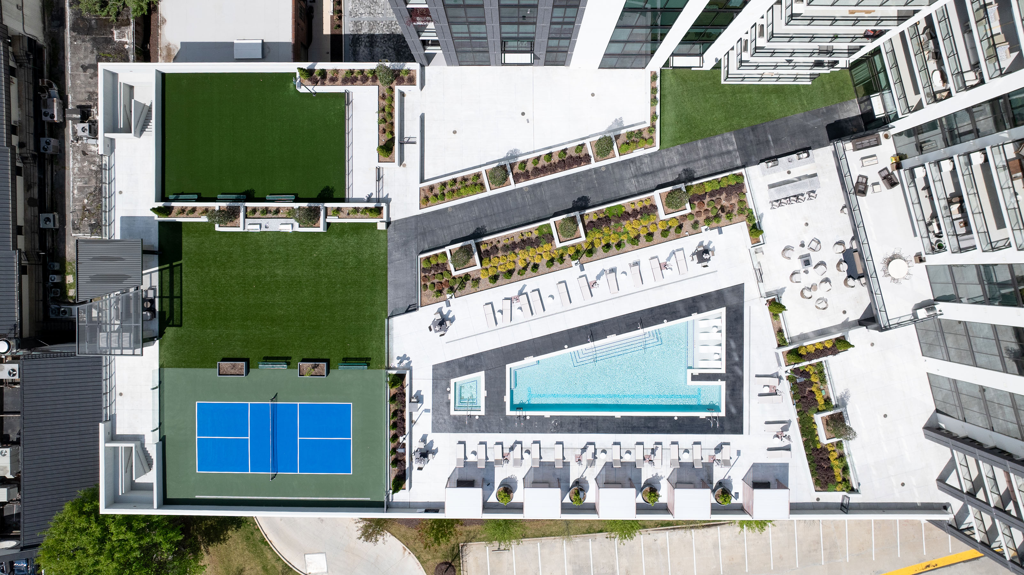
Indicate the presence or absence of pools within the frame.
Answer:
Yes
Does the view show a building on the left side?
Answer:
Yes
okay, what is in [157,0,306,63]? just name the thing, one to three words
building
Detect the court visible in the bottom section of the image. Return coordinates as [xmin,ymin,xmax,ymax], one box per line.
[159,368,387,506]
